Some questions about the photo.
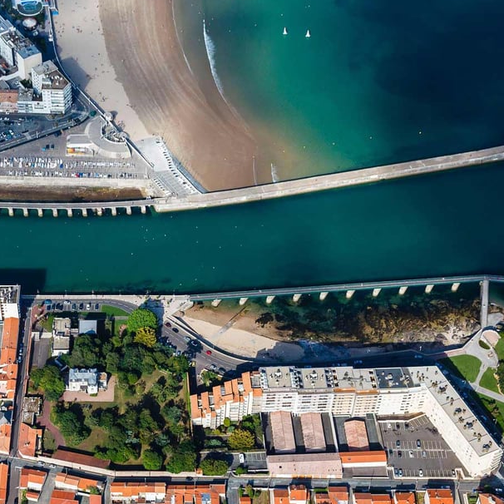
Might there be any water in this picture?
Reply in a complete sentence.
Yes, water shows up in the scene.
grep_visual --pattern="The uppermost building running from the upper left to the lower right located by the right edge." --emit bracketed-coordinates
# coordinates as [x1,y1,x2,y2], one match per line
[416,366,503,479]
